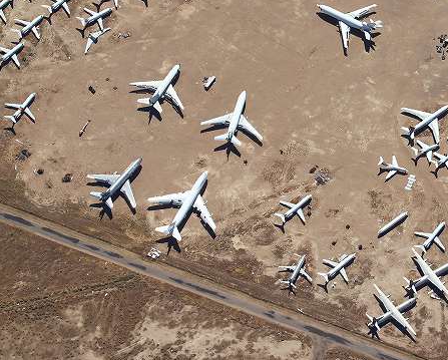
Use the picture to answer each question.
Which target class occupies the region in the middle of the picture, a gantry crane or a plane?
plane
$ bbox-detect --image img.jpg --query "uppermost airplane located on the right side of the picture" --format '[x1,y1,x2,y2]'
[317,0,382,52]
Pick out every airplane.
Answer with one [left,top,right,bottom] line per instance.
[149,172,219,244]
[414,141,439,165]
[317,0,382,52]
[80,9,113,30]
[432,152,448,170]
[0,45,23,69]
[0,0,11,23]
[278,196,311,225]
[321,255,356,284]
[403,105,448,144]
[200,91,262,144]
[367,286,418,338]
[130,65,185,111]
[44,0,70,16]
[14,16,44,39]
[414,223,445,252]
[278,255,311,286]
[5,93,37,122]
[88,158,142,209]
[405,250,448,297]
[379,153,407,179]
